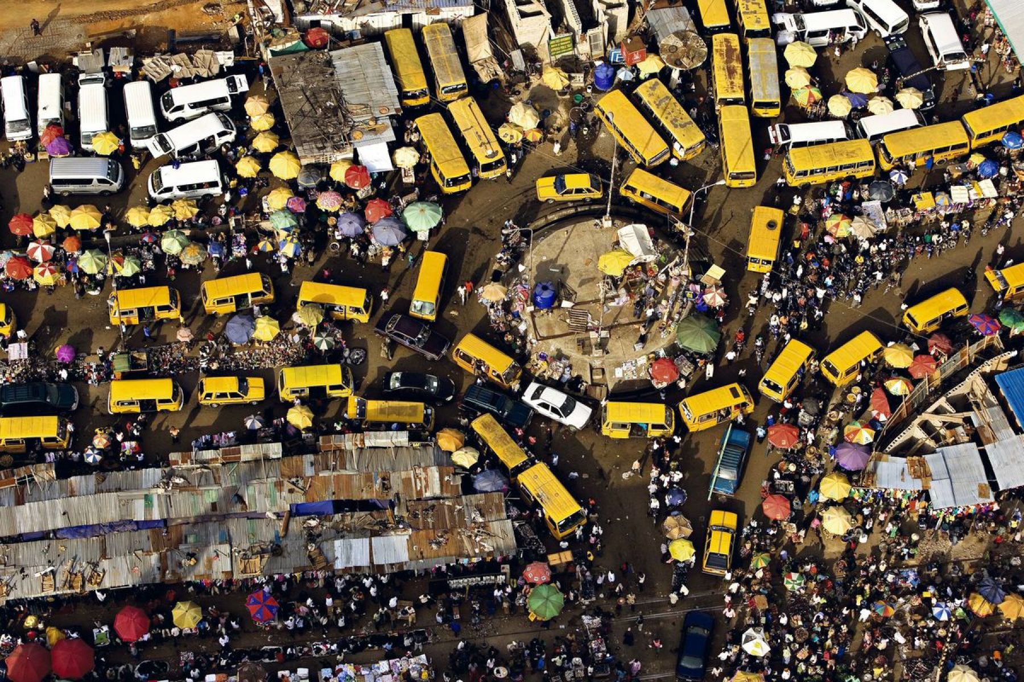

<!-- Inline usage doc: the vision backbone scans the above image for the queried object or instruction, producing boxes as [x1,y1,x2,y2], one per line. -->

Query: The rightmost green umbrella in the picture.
[999,308,1024,334]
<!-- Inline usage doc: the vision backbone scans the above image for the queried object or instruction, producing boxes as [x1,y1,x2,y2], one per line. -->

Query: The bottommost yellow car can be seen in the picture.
[701,505,739,576]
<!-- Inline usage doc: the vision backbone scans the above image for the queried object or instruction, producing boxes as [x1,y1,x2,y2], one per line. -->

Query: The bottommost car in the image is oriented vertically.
[673,616,714,682]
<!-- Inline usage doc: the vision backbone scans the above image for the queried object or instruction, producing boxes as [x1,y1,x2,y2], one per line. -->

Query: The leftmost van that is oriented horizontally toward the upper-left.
[49,159,130,196]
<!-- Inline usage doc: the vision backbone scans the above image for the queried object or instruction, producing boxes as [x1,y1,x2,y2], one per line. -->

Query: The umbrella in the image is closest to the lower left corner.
[7,643,51,682]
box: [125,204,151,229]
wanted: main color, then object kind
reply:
yellow umbrella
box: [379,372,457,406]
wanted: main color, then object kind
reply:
black car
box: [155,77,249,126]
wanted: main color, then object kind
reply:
white van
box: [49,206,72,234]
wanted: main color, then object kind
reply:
yellow umbrella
